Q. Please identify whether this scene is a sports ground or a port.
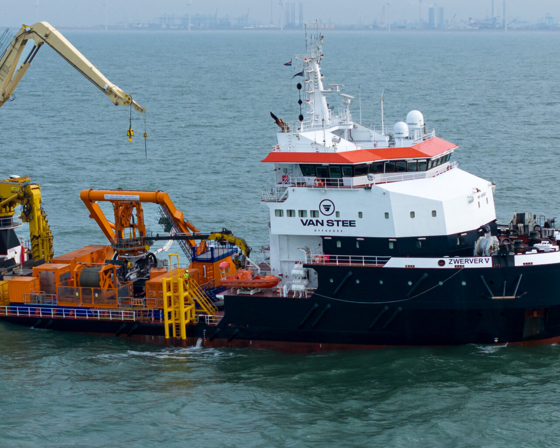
port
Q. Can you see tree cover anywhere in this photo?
No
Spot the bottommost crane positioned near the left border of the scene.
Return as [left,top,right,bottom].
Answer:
[0,174,52,258]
